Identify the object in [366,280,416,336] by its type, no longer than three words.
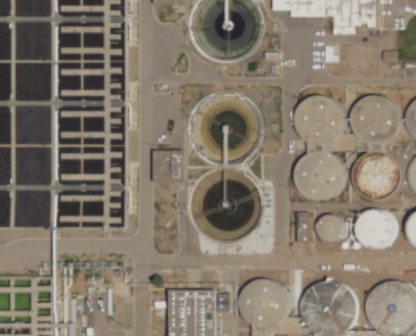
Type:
storage tank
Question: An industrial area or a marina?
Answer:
industrial area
